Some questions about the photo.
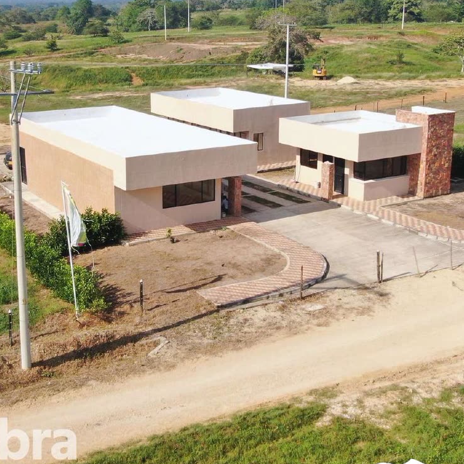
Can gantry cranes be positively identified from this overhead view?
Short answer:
No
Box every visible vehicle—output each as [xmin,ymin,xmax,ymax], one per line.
[1,144,12,164]
[312,55,328,81]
